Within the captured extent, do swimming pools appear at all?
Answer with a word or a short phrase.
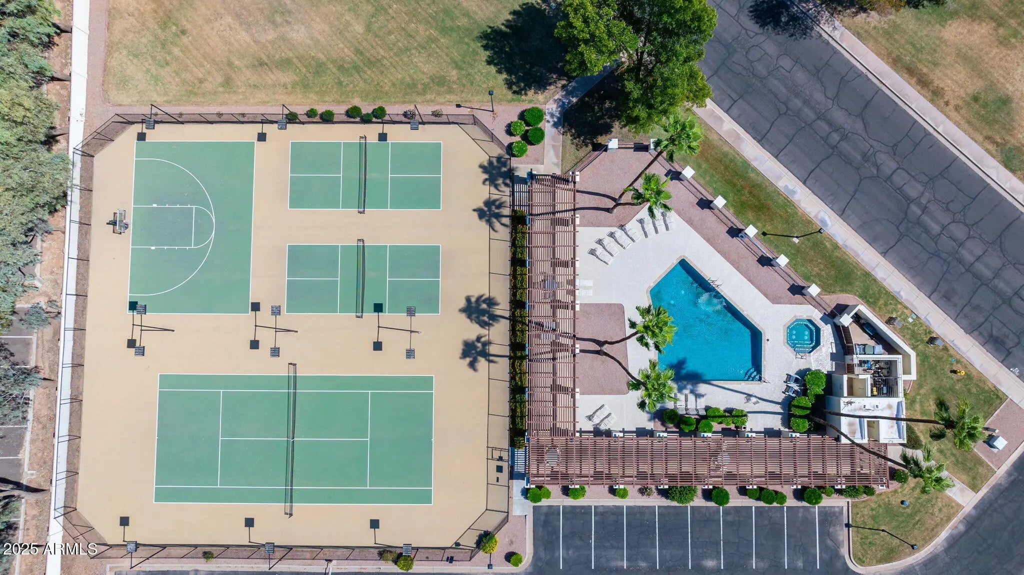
Yes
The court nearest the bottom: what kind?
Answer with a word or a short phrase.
tennis court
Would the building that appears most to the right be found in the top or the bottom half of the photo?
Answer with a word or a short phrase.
bottom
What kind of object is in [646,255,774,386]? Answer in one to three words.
swimming pool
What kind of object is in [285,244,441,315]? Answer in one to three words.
sports court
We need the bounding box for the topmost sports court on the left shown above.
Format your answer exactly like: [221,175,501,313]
[288,141,442,210]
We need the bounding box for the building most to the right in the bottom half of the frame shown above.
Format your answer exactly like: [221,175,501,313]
[826,355,906,443]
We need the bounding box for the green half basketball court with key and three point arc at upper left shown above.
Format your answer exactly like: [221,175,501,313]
[128,140,255,315]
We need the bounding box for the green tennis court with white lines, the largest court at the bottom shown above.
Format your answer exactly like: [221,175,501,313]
[153,374,434,505]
